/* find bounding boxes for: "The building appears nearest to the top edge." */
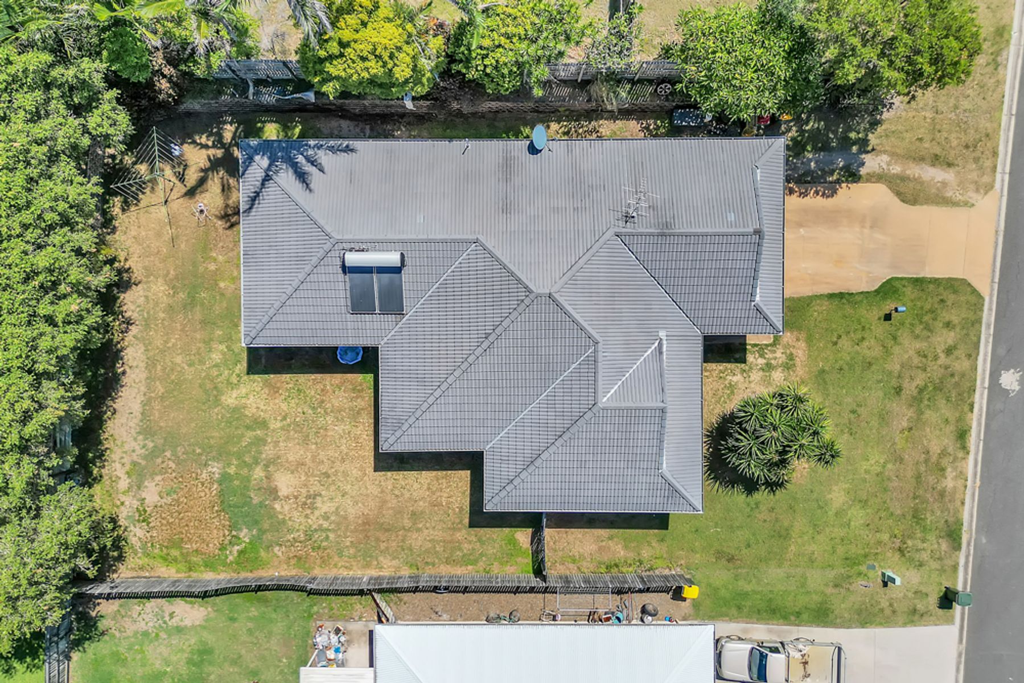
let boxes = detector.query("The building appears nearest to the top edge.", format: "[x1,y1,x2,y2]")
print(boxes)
[240,137,785,513]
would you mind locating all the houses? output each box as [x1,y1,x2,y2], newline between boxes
[372,616,717,683]
[240,137,785,513]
